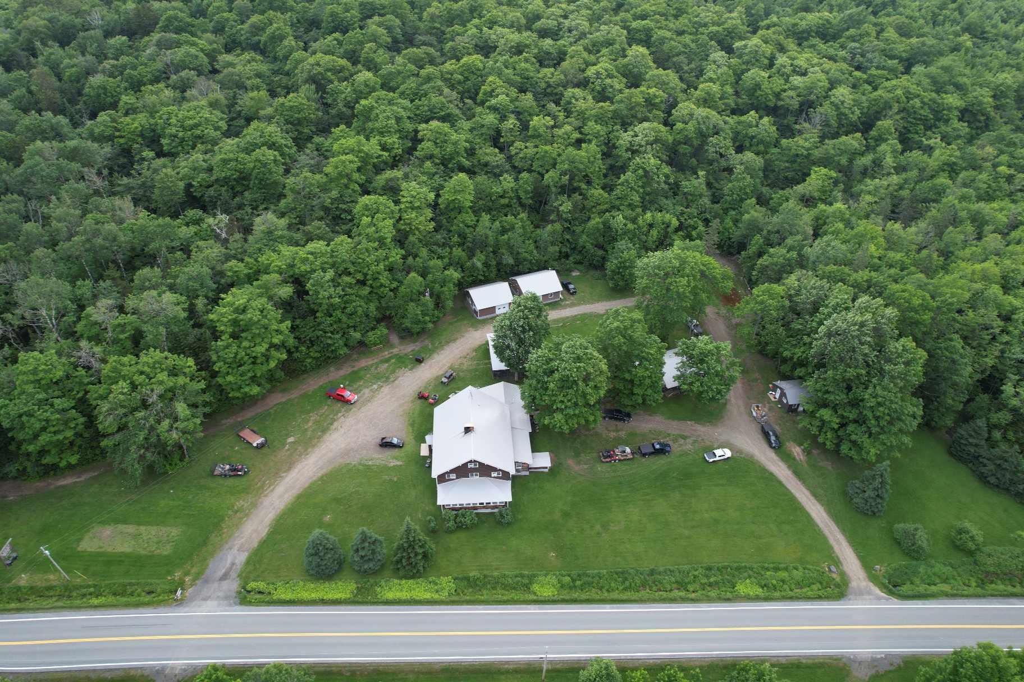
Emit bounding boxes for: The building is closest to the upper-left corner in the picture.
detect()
[466,280,513,318]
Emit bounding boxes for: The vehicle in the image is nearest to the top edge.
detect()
[559,281,580,296]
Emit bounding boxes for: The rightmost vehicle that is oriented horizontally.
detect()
[703,448,733,463]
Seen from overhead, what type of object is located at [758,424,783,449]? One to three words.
truck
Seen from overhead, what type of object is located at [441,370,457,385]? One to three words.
vehicle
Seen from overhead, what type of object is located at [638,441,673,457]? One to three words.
vehicle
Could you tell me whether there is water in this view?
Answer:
No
